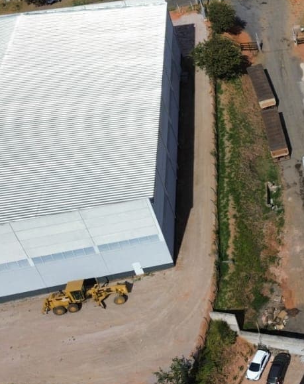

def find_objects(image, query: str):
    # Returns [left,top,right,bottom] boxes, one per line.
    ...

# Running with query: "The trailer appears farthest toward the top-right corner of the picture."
[248,66,276,113]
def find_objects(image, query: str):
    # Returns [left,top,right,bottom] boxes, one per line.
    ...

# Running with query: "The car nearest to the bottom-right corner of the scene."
[265,354,286,382]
